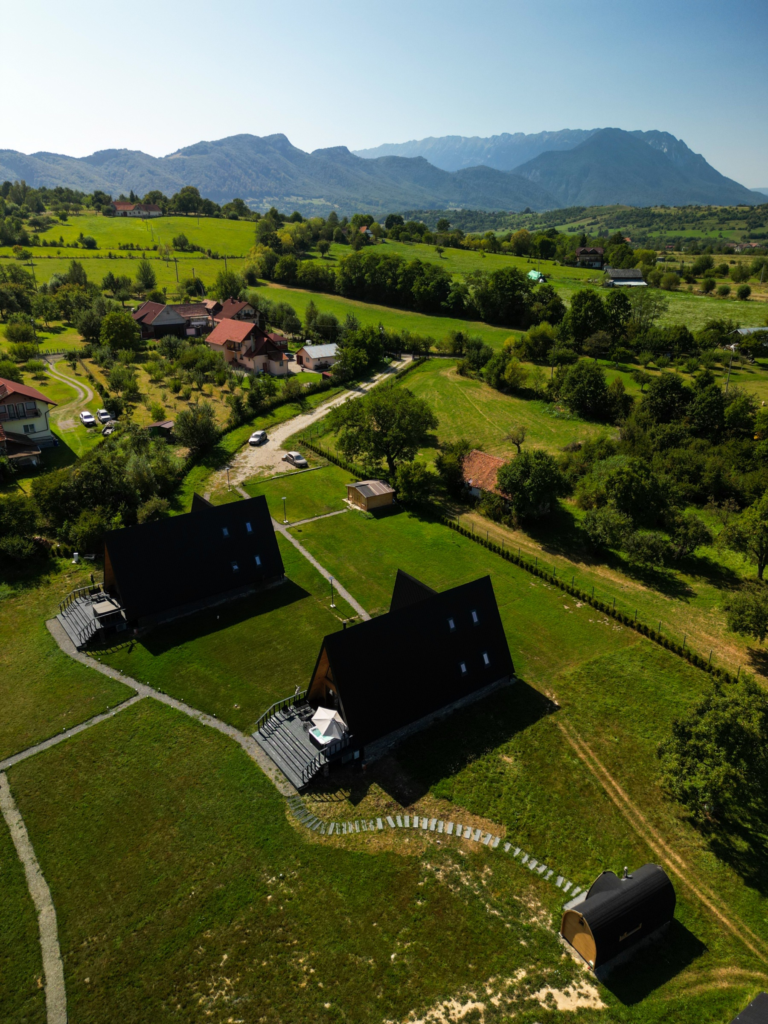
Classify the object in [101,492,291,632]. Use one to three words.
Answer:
building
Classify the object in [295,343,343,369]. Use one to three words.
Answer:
building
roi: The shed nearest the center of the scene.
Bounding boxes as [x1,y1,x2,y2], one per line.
[340,478,395,512]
